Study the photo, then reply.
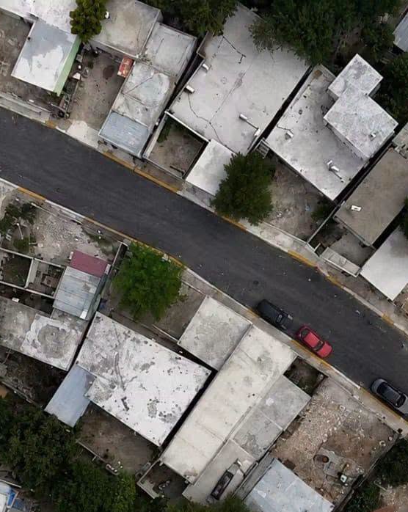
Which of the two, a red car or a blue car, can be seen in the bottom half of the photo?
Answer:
red car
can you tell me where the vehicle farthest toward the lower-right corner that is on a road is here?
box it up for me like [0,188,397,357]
[369,376,408,417]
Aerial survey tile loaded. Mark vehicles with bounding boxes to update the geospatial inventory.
[369,376,408,417]
[209,464,238,501]
[292,323,334,359]
[252,296,295,331]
